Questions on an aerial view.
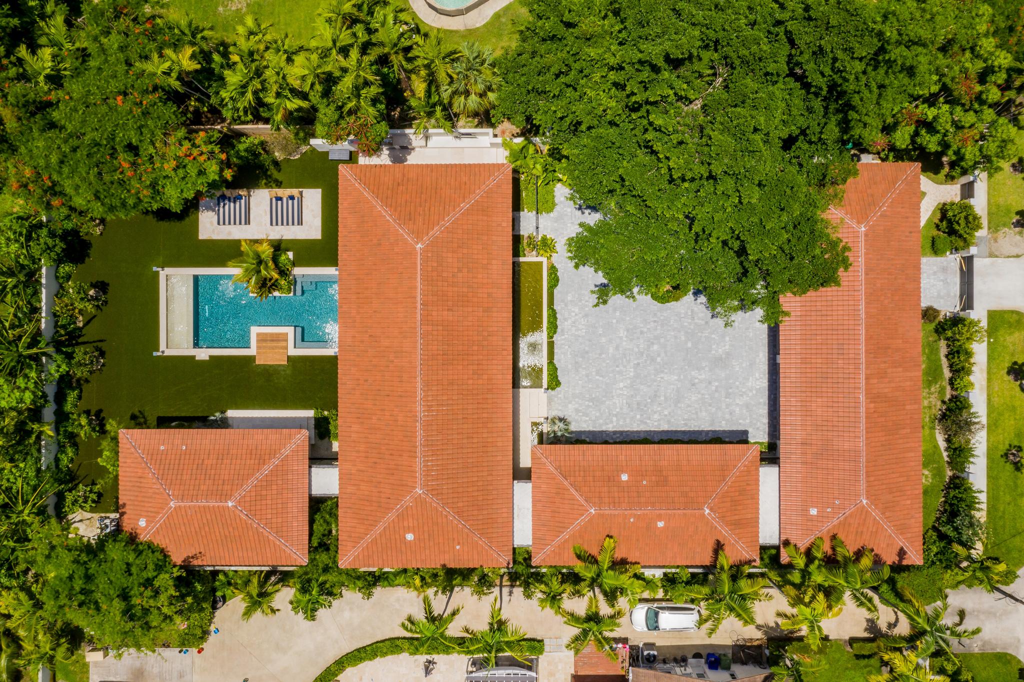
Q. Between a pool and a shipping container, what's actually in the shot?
pool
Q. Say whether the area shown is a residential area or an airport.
residential area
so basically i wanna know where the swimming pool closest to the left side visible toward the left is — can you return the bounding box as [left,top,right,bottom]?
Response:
[159,267,337,360]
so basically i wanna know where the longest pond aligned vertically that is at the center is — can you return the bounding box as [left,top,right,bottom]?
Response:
[514,258,547,389]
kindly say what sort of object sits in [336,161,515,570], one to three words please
house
